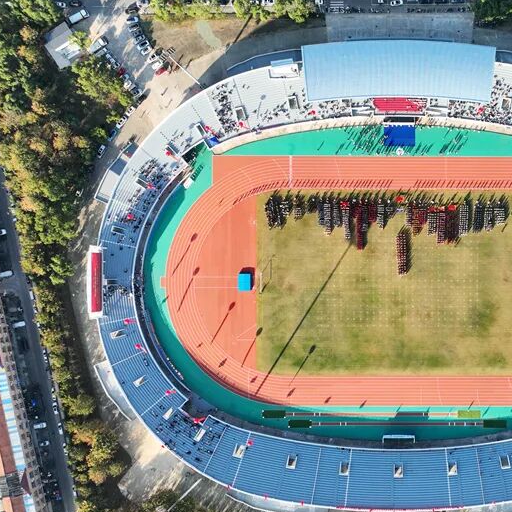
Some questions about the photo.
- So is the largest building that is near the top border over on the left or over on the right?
left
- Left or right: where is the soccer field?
right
